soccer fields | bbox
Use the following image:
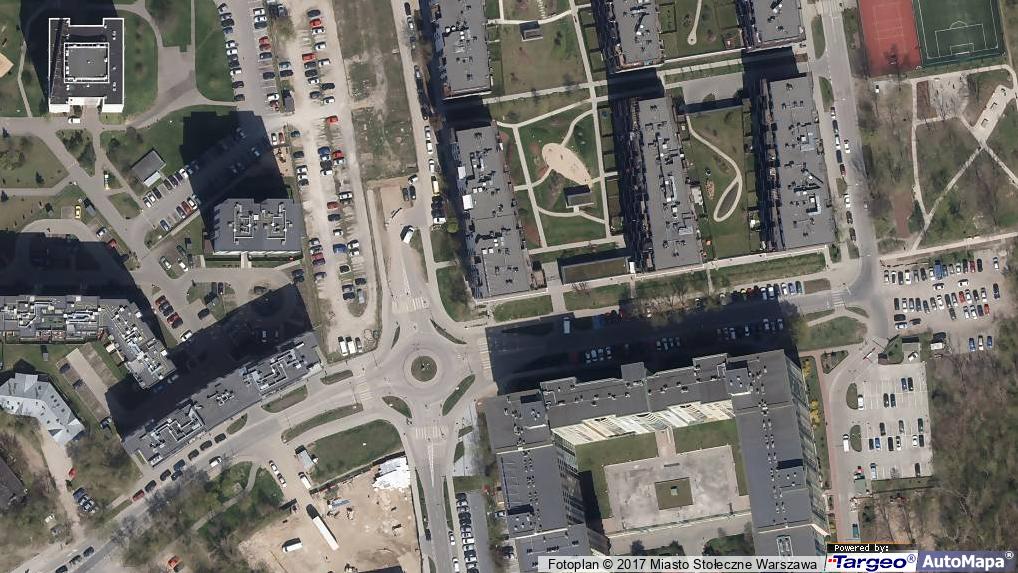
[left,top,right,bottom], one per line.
[914,0,1006,68]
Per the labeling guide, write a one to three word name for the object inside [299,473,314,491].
vehicle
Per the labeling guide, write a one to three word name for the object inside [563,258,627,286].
building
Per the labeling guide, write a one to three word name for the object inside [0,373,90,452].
house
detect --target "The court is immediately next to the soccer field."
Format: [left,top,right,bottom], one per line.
[860,0,923,76]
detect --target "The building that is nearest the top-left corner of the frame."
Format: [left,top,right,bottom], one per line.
[49,18,126,113]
